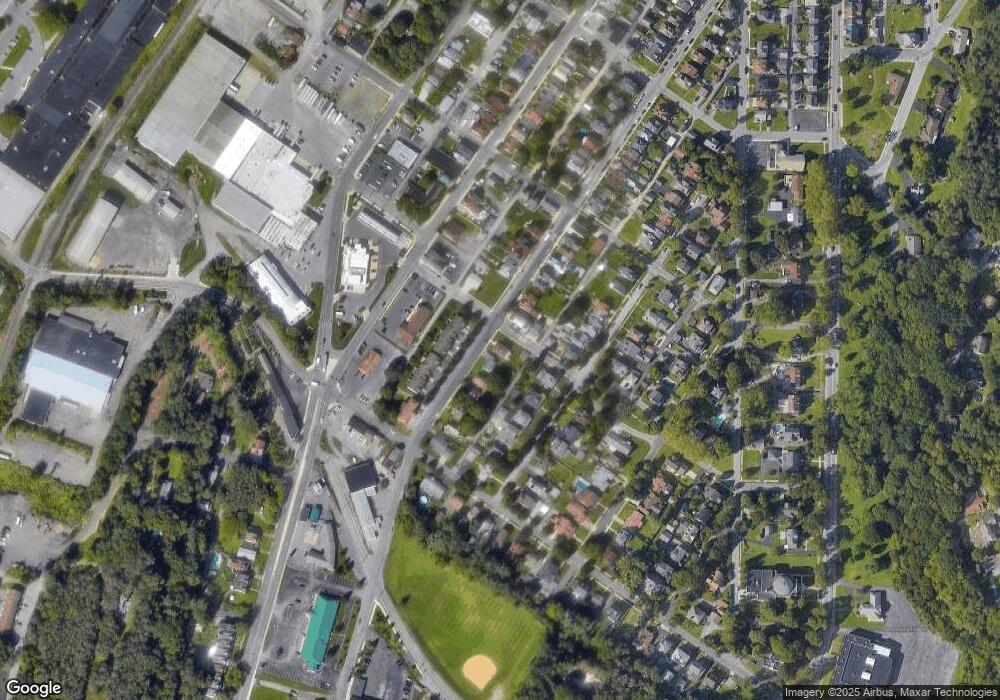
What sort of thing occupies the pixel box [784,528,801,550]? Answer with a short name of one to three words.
house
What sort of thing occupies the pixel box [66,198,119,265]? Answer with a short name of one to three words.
shed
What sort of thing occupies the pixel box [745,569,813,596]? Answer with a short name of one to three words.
building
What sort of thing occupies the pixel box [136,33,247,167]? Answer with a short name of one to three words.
warehouse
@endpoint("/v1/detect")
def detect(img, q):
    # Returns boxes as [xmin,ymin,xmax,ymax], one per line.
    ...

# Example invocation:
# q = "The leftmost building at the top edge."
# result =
[0,0,176,193]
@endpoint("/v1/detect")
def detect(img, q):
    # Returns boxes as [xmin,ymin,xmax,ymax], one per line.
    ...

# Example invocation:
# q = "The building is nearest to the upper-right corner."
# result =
[950,26,970,58]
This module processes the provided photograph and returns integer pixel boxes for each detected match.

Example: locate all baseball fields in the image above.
[382,504,546,700]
